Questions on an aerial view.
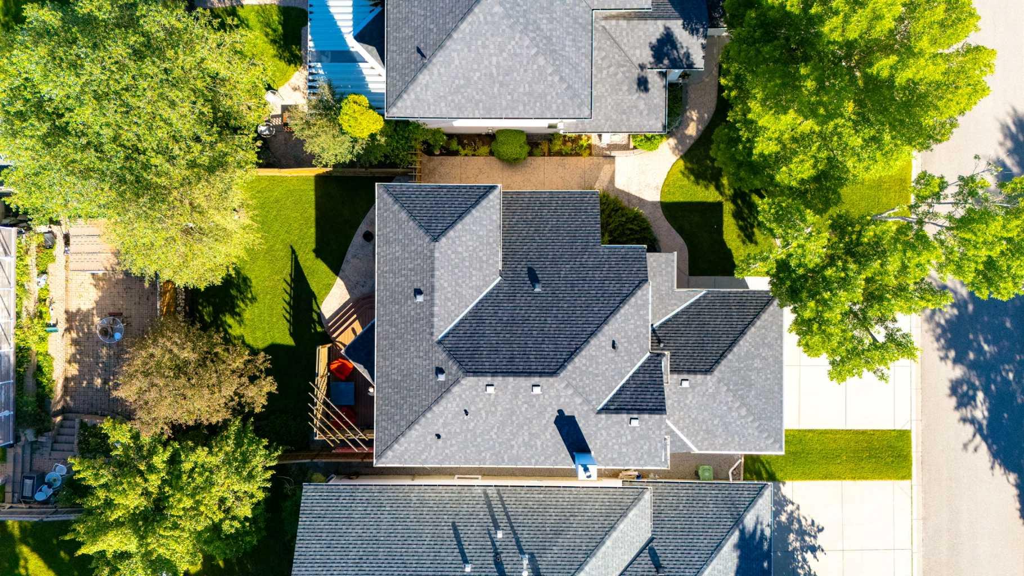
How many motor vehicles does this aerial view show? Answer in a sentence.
Not a single motor vehicle can be seen.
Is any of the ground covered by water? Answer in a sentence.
No, there is no water in the image.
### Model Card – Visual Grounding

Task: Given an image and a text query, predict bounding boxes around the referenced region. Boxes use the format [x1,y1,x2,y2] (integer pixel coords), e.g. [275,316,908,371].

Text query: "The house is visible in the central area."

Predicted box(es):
[341,182,785,481]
